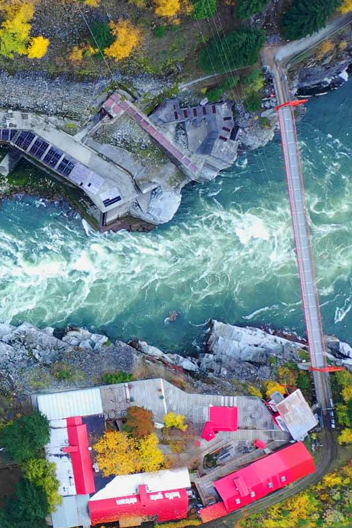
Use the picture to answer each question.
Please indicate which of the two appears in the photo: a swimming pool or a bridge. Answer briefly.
bridge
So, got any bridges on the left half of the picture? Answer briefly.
No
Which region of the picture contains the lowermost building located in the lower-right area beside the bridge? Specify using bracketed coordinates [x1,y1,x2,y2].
[199,440,316,525]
